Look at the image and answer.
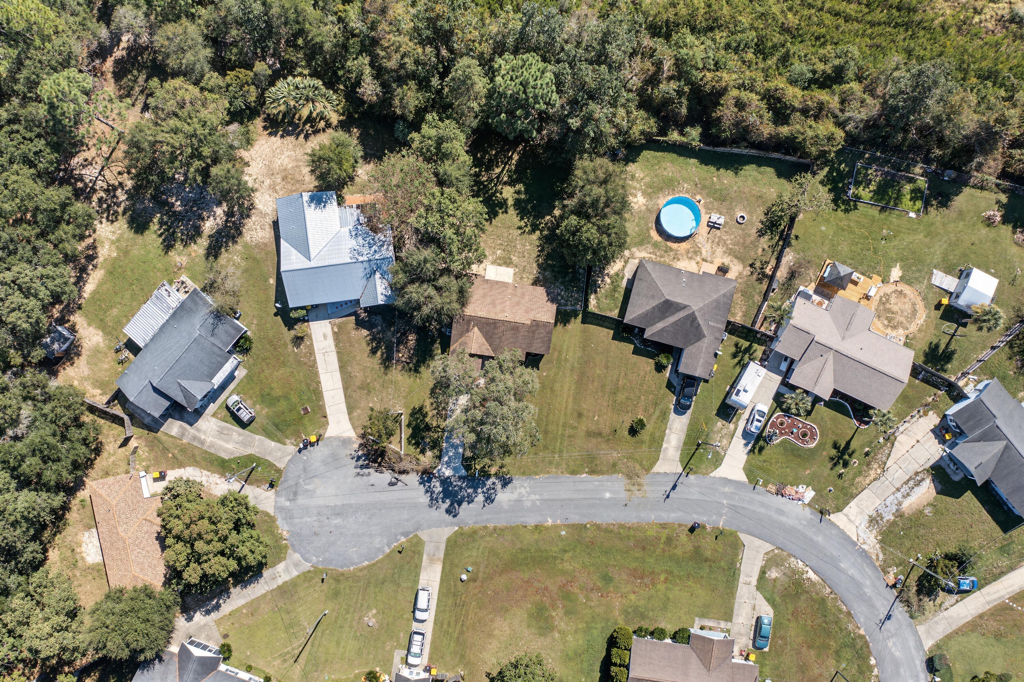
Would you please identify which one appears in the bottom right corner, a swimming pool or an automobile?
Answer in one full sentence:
The one visible in the bottom right corner is an automobile.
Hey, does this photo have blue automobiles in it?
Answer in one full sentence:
Yes, the image includes a blue automobile.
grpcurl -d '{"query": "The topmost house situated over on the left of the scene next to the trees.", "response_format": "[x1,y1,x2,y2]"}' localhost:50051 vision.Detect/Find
[276,191,400,307]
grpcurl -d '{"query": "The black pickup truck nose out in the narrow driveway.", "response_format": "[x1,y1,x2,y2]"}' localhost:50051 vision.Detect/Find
[678,374,699,415]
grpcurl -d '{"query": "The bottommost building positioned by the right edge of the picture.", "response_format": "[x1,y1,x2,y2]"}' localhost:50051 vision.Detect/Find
[942,377,1024,530]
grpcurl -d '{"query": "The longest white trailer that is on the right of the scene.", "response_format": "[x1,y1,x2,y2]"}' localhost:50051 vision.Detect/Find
[723,360,767,414]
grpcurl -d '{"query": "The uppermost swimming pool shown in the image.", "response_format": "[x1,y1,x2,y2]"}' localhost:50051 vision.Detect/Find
[657,195,702,241]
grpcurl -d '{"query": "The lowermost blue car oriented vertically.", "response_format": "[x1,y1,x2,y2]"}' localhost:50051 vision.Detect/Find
[755,616,774,652]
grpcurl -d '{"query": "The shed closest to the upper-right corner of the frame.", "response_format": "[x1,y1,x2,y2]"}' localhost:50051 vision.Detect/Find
[948,267,999,315]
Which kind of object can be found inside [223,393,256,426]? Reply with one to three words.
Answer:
car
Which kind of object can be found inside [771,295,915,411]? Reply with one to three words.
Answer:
house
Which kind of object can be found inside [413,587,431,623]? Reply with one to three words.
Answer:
car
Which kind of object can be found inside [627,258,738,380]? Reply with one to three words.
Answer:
house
